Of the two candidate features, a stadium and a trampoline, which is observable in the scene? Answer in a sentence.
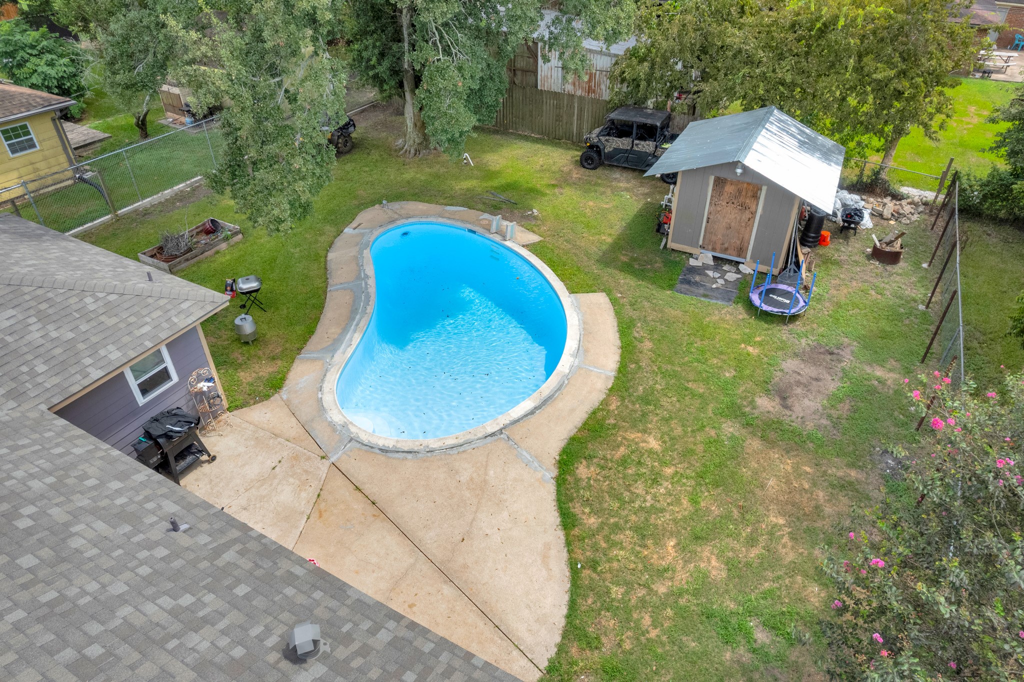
There is a trampoline in the scene.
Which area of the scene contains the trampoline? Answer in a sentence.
The trampoline is in the right part of the image.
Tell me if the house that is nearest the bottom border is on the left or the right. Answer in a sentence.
The house that is nearest the bottom border appears in the left half of the scene.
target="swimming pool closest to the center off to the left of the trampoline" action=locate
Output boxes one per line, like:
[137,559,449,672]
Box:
[323,216,579,452]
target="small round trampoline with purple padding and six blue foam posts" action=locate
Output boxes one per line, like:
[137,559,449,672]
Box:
[748,251,819,322]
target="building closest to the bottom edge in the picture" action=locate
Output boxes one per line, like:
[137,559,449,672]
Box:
[0,214,525,682]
